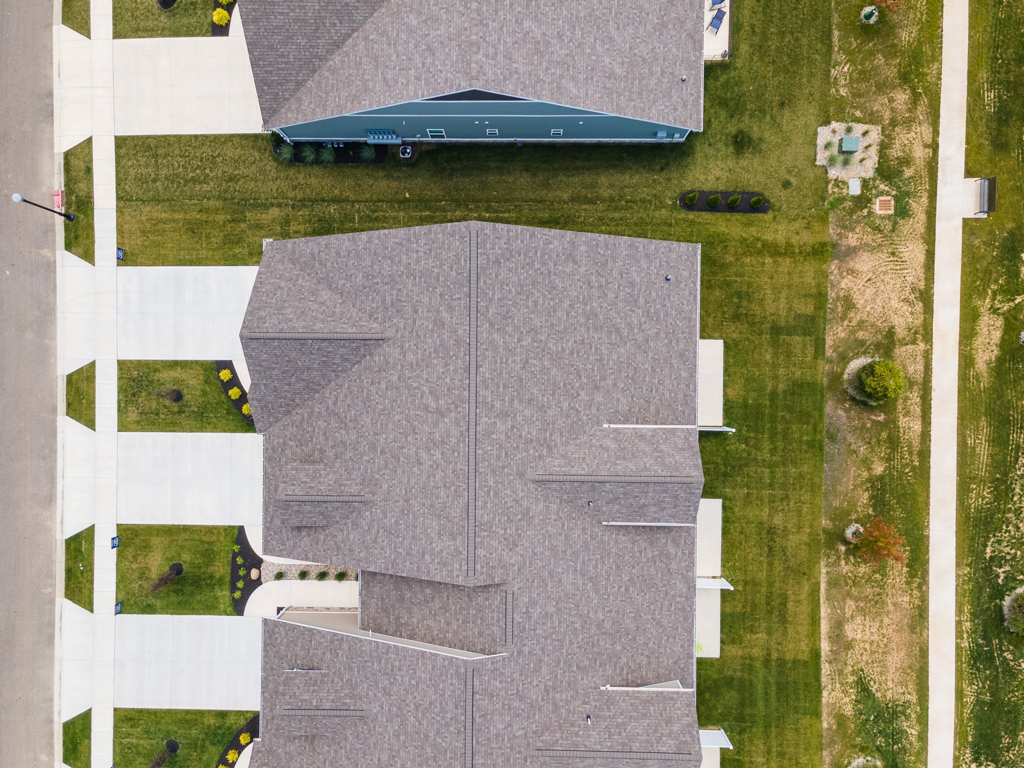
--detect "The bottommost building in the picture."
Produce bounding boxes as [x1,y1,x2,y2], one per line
[239,221,704,768]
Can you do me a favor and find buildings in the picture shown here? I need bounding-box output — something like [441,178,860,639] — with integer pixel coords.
[239,0,705,150]
[239,221,704,768]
